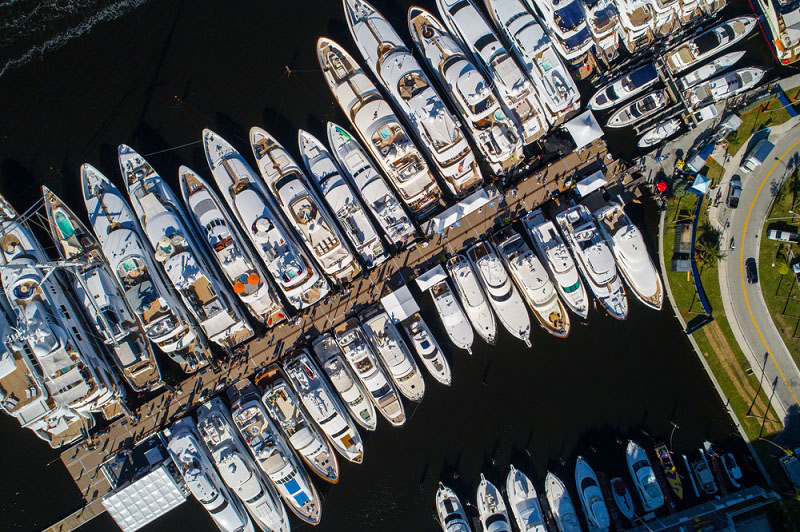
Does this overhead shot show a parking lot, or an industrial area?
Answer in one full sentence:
This looks like a parking lot.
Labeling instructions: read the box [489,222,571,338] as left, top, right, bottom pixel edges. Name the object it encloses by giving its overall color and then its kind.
white boat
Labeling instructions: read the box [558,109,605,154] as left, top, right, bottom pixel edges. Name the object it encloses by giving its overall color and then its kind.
white tent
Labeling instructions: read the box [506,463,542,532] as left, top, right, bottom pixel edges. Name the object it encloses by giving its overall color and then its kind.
white boat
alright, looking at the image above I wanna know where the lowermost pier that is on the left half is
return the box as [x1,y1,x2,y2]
[38,493,109,532]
